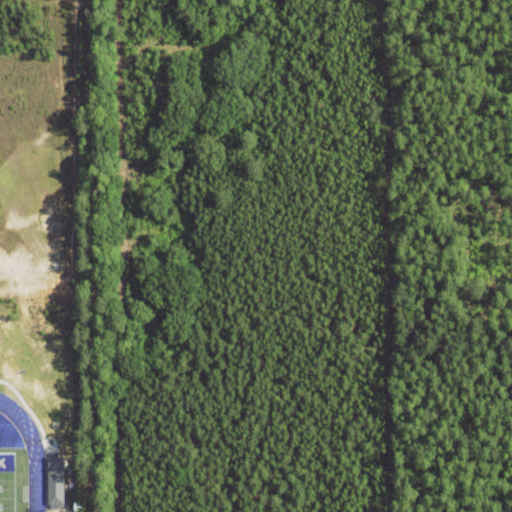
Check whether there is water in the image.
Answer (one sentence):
No, no water is visible.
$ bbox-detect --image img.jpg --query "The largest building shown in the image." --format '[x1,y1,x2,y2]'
[48,456,65,509]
